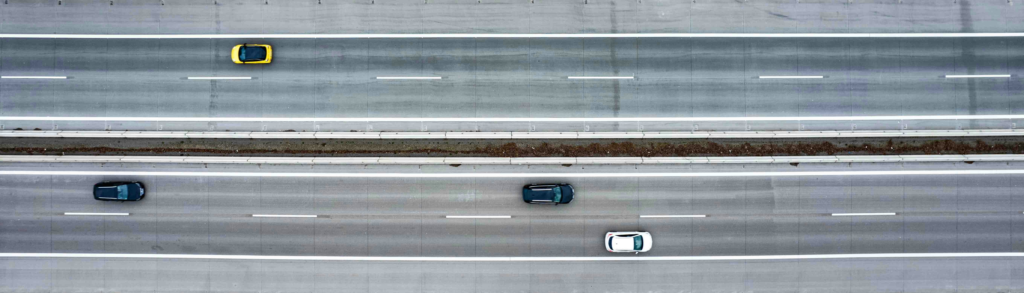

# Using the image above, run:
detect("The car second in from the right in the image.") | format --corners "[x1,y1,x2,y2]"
[523,182,574,207]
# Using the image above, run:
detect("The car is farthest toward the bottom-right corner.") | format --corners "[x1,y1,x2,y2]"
[605,231,652,255]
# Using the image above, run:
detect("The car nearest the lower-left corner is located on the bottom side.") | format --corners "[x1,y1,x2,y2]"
[92,179,146,204]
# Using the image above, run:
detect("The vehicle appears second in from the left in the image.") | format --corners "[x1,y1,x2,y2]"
[231,41,272,65]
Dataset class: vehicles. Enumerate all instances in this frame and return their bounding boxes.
[231,41,272,65]
[92,179,146,204]
[523,182,574,207]
[605,231,652,255]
